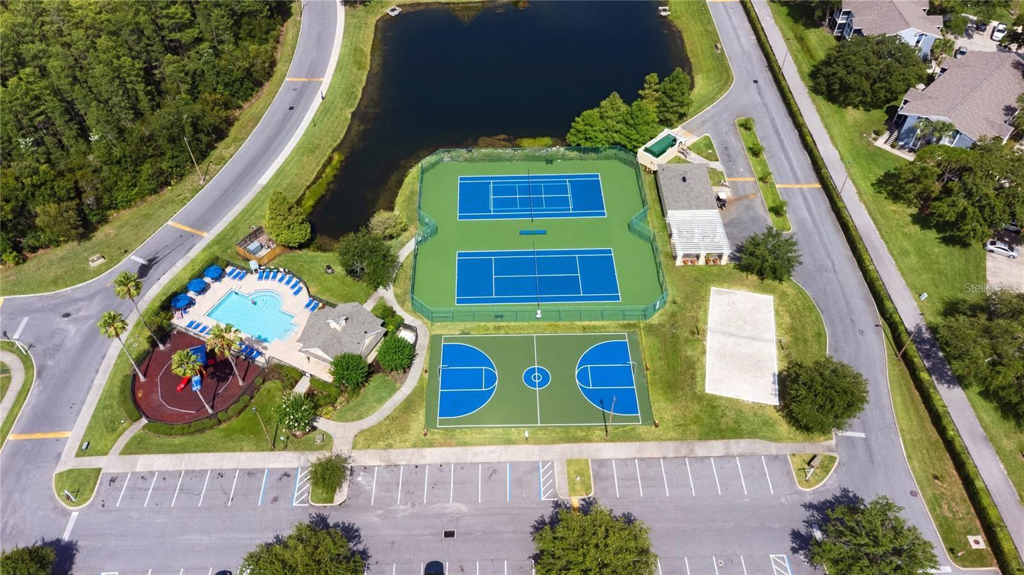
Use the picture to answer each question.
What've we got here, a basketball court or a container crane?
basketball court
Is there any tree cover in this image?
Yes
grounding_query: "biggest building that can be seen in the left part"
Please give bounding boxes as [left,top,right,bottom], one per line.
[296,302,387,369]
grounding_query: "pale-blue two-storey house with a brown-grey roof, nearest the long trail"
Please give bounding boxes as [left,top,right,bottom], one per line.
[874,49,1024,162]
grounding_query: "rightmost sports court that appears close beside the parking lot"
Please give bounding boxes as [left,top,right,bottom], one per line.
[706,287,778,403]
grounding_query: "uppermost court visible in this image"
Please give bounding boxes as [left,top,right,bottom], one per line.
[458,168,606,222]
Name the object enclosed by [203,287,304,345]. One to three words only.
swimming pool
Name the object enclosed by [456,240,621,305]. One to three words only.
tennis court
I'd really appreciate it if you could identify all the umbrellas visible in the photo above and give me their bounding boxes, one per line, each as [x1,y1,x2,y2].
[202,265,226,285]
[169,293,195,314]
[185,278,210,298]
